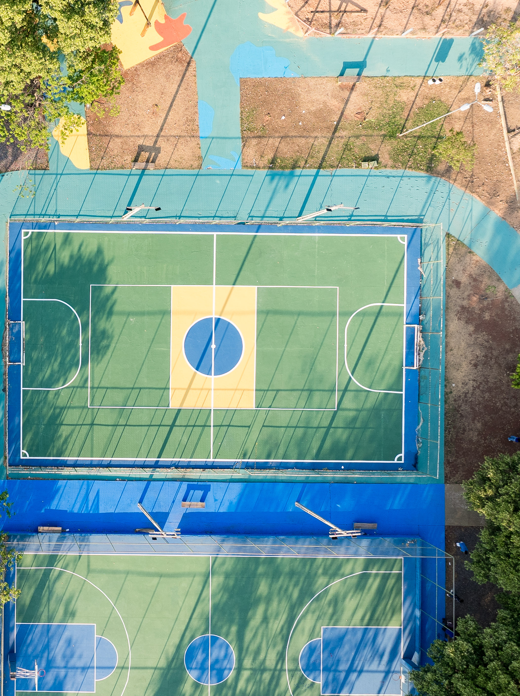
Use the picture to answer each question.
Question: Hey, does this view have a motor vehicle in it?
No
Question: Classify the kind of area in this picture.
sports ground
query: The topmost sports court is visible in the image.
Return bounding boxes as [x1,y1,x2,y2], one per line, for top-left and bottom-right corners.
[9,223,421,471]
